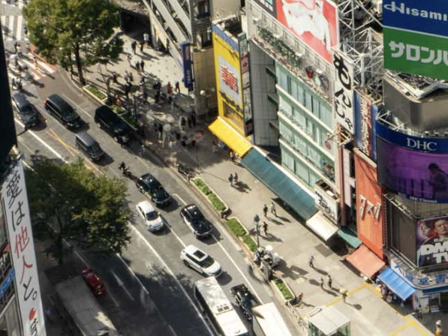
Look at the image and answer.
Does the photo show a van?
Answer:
Yes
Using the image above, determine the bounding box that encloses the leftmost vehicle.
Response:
[10,91,40,131]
